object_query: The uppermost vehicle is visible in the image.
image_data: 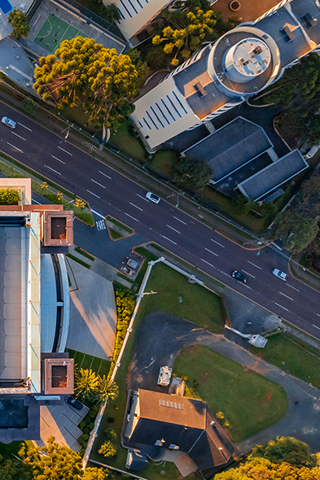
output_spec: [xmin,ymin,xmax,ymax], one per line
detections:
[0,116,18,129]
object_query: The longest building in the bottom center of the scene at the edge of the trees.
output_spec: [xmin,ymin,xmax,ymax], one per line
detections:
[121,387,235,471]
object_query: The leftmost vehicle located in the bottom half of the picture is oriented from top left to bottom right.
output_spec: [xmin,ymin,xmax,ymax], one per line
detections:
[65,395,83,410]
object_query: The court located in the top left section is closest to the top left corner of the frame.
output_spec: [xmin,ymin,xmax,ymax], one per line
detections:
[19,0,126,60]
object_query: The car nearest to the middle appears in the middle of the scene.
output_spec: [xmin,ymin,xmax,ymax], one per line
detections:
[144,191,162,204]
